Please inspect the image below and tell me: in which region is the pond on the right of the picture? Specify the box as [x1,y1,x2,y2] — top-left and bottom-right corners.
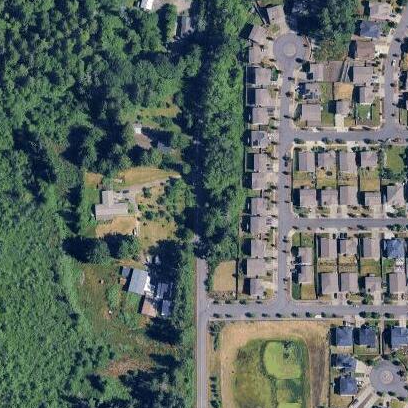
[264,346,303,408]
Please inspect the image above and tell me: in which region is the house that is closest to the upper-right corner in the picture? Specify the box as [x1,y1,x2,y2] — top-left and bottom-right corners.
[370,3,392,20]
